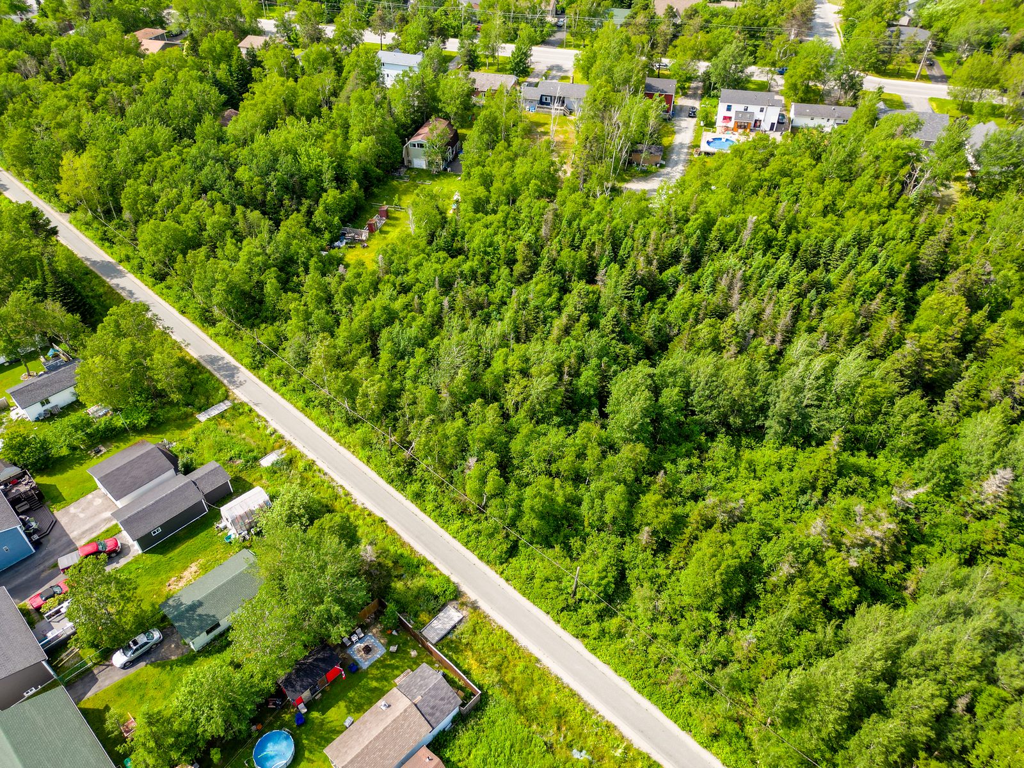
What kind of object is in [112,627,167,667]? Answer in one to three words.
car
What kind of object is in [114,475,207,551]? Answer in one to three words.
building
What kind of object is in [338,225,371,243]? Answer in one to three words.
shed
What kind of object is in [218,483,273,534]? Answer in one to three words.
greenhouse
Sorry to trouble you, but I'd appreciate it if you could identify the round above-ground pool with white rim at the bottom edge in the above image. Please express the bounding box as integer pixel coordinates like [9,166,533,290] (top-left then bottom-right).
[252,728,297,768]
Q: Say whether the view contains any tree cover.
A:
Yes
